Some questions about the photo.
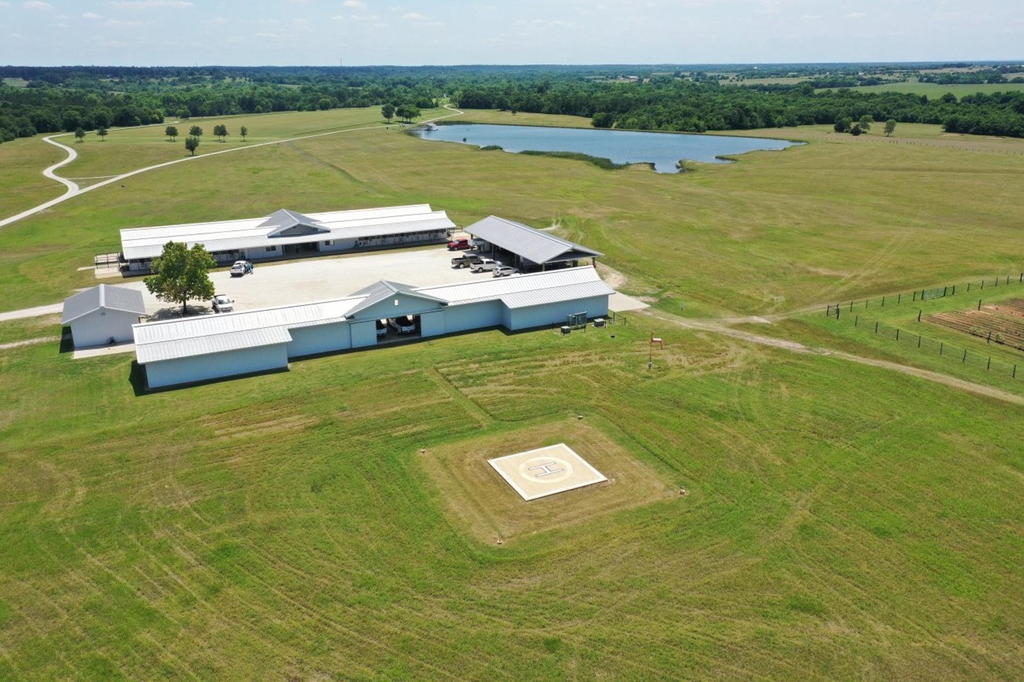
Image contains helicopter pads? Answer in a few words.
Yes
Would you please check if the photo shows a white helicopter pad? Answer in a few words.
Yes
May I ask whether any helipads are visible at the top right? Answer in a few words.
No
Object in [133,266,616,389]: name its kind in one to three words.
barn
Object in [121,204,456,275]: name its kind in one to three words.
barn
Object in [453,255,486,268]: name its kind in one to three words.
vehicle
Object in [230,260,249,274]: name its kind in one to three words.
vehicle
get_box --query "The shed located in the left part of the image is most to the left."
[60,283,145,347]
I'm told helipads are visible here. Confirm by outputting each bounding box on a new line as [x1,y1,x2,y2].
[487,442,607,502]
